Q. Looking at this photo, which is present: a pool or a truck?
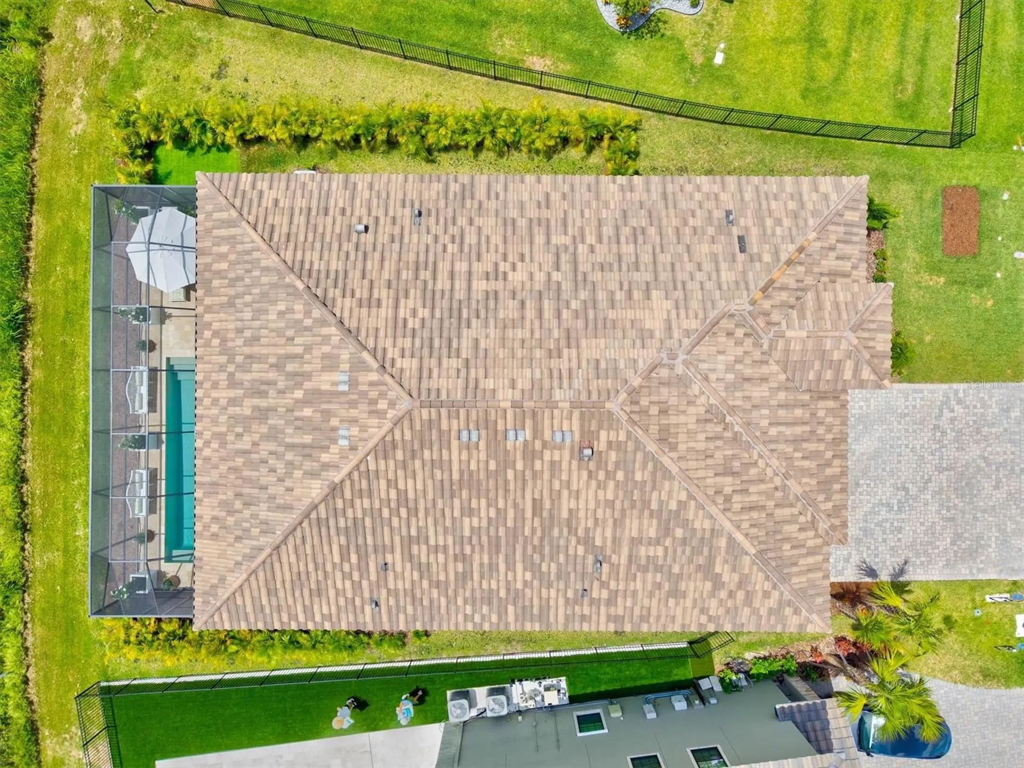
pool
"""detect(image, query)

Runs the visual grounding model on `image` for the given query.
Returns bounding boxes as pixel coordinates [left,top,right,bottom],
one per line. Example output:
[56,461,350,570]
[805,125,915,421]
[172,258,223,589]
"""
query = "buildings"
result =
[436,674,876,768]
[191,170,896,636]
